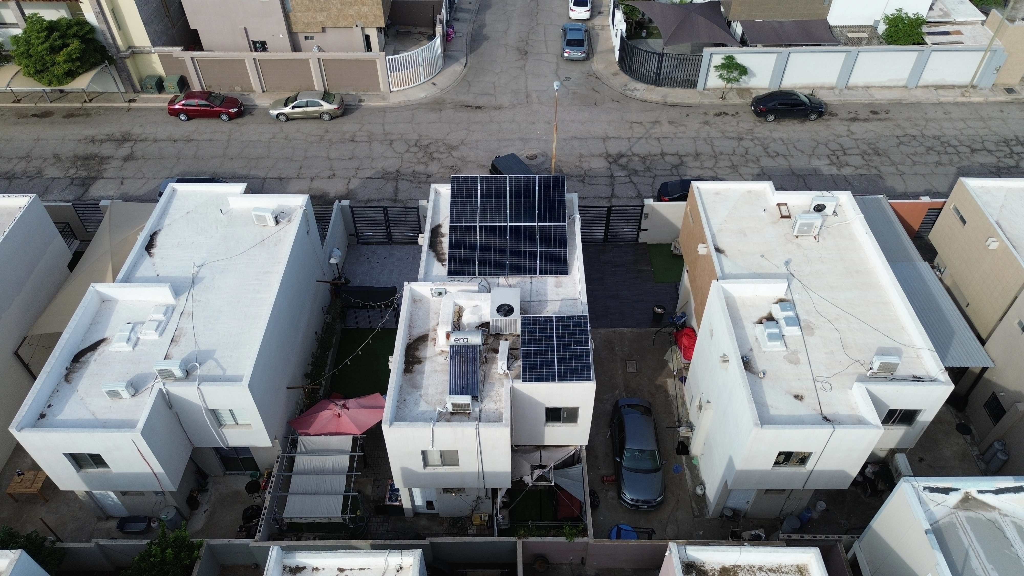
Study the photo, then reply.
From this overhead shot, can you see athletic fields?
No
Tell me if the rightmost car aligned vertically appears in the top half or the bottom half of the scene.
bottom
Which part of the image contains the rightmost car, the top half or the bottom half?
top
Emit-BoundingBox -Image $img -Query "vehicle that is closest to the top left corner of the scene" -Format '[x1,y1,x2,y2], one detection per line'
[166,90,245,122]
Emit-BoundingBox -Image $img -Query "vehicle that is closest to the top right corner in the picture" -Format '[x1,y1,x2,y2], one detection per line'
[752,89,829,123]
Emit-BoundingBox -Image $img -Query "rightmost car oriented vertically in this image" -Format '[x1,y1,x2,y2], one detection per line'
[611,398,671,511]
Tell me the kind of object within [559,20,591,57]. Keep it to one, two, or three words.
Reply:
car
